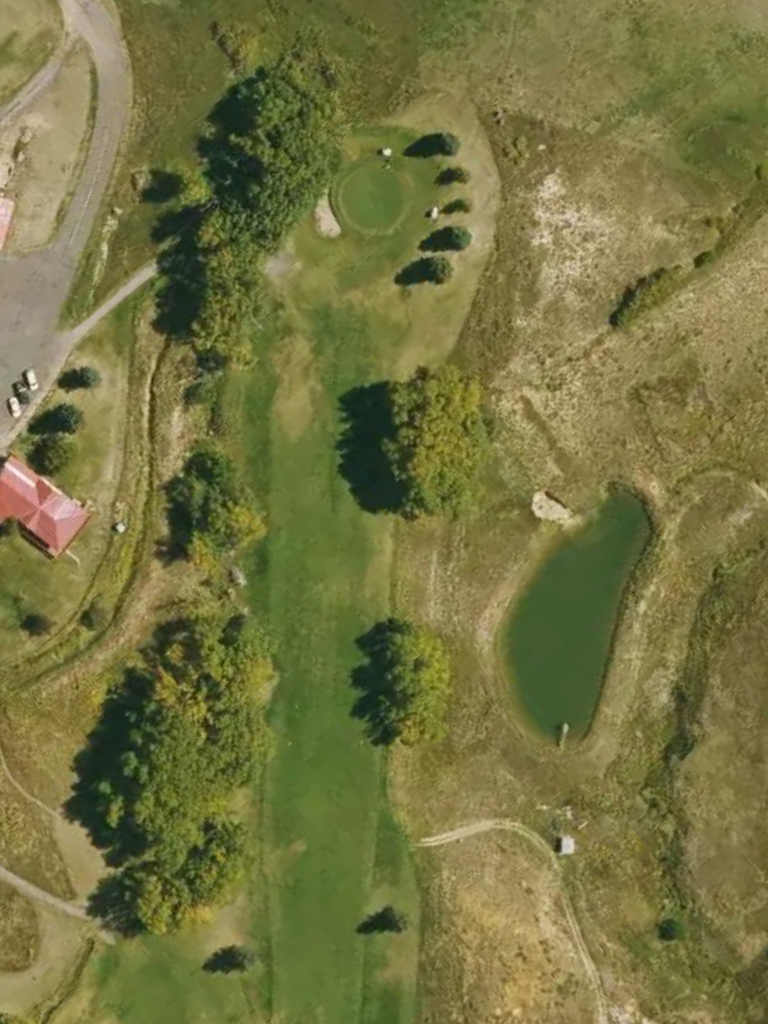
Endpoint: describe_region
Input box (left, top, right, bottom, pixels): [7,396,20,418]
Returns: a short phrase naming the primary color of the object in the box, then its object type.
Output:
white vehicle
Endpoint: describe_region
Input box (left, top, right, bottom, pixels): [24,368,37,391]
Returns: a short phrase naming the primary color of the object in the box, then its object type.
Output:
white vehicle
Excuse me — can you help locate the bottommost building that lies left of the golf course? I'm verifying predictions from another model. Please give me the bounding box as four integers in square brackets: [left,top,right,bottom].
[0,456,87,557]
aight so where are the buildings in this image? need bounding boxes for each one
[0,456,87,557]
[560,836,572,854]
[0,200,10,249]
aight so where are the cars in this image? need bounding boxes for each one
[7,396,20,418]
[24,368,37,391]
[14,379,28,403]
